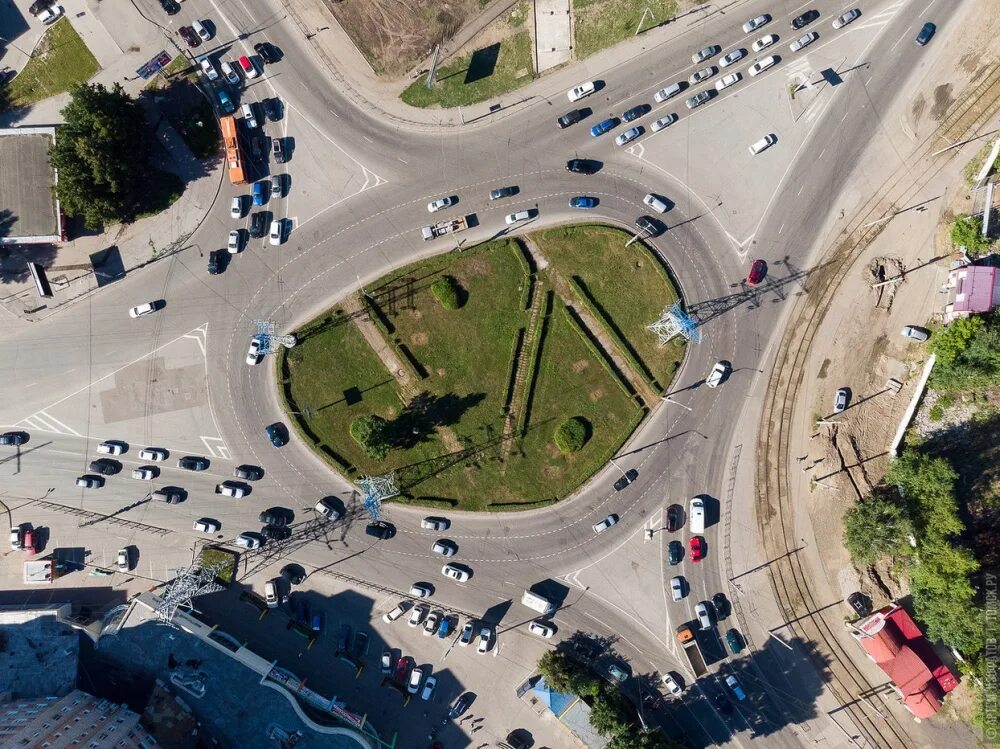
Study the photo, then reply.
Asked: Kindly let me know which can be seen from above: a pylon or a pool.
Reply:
pylon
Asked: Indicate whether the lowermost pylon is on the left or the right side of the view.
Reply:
left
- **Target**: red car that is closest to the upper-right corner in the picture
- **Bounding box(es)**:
[748,260,766,284]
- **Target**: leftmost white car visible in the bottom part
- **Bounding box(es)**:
[6,523,23,554]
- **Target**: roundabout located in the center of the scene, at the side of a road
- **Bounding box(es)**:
[205,146,752,578]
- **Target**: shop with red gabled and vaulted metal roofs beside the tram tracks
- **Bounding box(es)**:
[842,587,961,716]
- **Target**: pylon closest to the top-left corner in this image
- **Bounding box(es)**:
[250,315,297,357]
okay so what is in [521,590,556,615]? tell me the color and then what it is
white vehicle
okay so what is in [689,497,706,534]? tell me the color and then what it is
white vehicle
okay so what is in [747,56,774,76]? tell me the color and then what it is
white car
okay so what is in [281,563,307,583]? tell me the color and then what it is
black car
